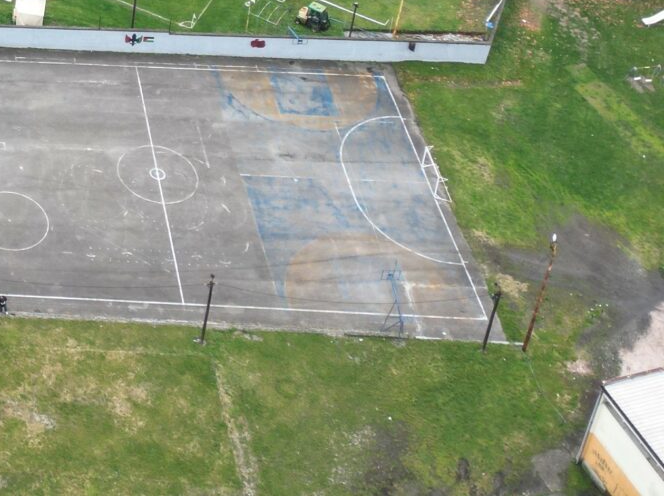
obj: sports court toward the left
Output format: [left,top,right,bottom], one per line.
[0,46,528,349]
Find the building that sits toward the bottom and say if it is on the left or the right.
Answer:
right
